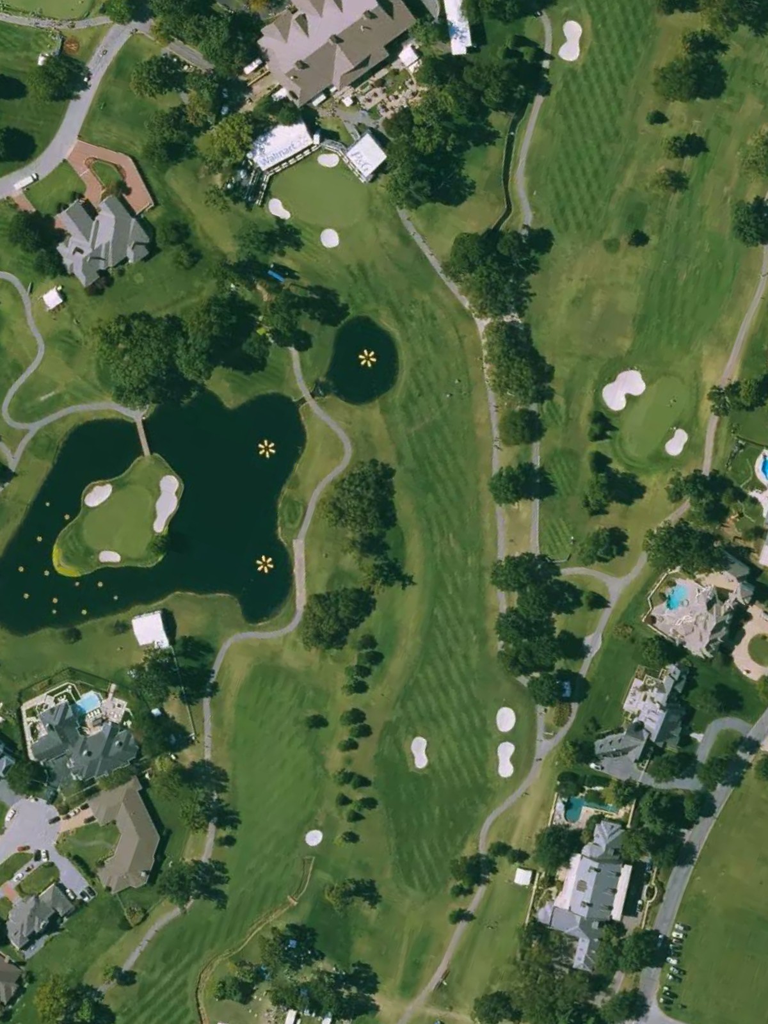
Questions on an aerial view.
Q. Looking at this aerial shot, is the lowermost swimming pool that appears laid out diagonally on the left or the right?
left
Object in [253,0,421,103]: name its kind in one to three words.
building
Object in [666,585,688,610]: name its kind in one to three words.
swimming pool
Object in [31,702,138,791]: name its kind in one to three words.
house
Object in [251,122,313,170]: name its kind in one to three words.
tent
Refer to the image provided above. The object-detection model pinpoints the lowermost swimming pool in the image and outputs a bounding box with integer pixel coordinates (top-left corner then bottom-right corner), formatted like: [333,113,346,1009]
[567,797,608,822]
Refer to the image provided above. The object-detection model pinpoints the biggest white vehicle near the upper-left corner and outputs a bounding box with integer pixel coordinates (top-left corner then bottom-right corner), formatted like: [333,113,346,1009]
[15,174,38,189]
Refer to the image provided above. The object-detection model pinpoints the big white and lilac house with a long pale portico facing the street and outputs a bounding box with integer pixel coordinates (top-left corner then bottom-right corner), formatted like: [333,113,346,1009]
[540,820,633,974]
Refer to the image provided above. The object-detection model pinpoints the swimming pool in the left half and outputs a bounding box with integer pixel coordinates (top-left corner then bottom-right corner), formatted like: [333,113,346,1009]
[72,690,101,723]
